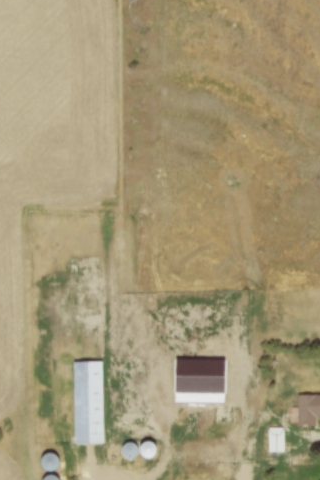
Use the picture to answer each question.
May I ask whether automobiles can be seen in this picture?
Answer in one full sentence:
No, the frame has no automobile in it.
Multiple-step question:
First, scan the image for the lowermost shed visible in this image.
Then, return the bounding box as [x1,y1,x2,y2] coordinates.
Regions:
[268,427,284,454]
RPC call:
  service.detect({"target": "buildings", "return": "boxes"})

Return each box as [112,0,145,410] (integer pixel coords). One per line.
[290,394,320,428]
[268,427,284,454]
[73,360,104,444]
[175,358,227,406]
